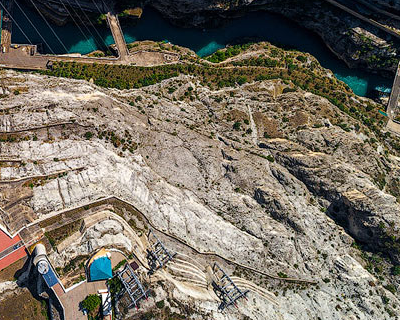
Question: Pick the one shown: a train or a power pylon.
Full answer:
There is a power pylon in the scene.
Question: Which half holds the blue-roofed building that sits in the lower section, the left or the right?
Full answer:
It is on the left.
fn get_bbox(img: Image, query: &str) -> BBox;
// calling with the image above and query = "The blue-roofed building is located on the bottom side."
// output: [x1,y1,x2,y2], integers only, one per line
[88,250,112,280]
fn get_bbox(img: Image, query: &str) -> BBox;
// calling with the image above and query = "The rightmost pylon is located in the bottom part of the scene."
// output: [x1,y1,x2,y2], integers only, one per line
[208,263,251,309]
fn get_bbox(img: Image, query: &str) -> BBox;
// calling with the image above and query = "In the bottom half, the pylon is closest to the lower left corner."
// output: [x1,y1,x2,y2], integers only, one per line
[120,266,152,311]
